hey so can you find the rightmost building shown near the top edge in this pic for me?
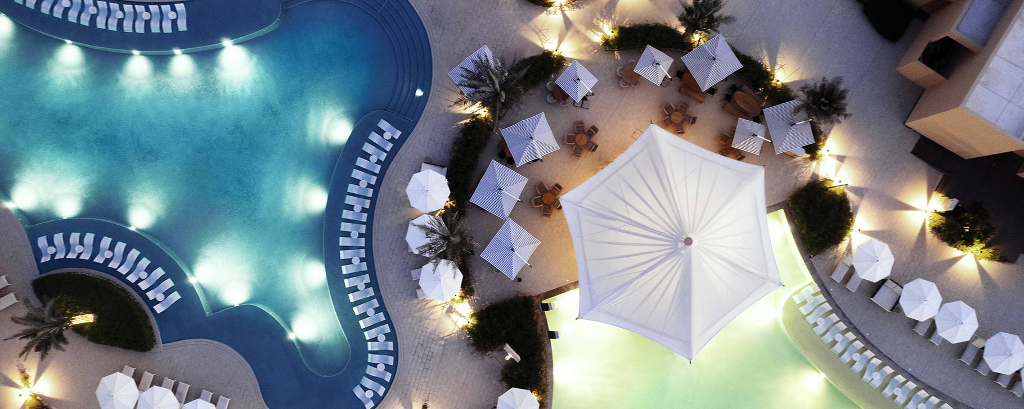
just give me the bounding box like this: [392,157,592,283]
[897,0,1024,160]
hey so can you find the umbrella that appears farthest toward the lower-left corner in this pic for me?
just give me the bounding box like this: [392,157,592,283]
[94,371,141,409]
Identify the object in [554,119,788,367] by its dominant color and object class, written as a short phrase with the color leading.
white tent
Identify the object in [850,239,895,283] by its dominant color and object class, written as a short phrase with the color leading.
white umbrella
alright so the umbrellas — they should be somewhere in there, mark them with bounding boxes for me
[763,98,814,155]
[501,111,560,168]
[470,160,528,220]
[730,118,773,155]
[94,371,141,409]
[681,33,743,92]
[449,44,510,108]
[633,45,674,86]
[136,382,184,409]
[404,213,449,258]
[418,257,464,303]
[979,330,1024,376]
[483,218,541,280]
[405,169,450,213]
[494,386,540,409]
[183,398,221,409]
[932,300,978,345]
[897,276,943,322]
[556,60,598,105]
[850,239,895,283]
